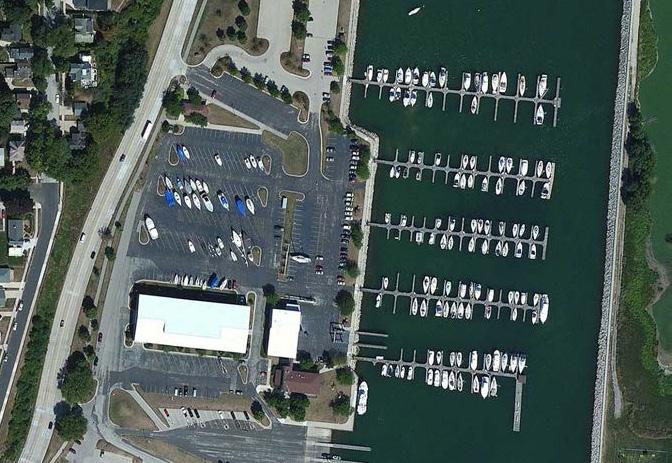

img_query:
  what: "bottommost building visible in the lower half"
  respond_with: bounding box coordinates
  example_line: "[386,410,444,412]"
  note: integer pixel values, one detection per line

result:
[274,365,321,397]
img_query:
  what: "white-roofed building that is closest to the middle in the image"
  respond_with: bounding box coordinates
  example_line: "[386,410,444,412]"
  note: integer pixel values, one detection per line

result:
[267,310,301,358]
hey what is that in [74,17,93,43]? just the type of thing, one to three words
house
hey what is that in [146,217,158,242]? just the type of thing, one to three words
boat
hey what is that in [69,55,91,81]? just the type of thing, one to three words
house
